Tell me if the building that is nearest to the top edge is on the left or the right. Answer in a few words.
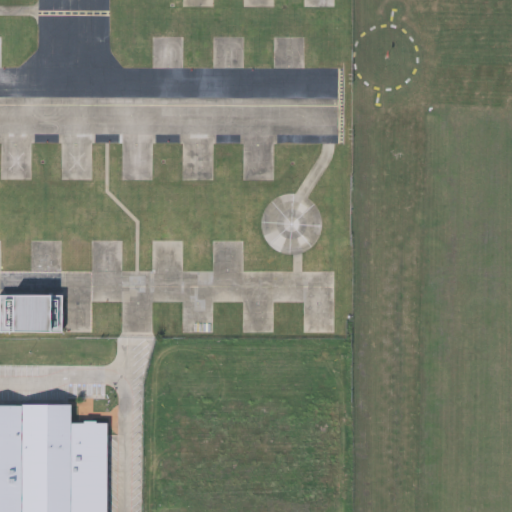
left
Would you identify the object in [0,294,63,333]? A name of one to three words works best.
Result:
building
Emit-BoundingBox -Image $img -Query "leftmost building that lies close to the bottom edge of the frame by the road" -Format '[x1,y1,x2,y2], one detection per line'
[0,405,72,512]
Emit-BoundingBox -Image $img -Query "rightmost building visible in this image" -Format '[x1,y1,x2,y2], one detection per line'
[72,421,108,512]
